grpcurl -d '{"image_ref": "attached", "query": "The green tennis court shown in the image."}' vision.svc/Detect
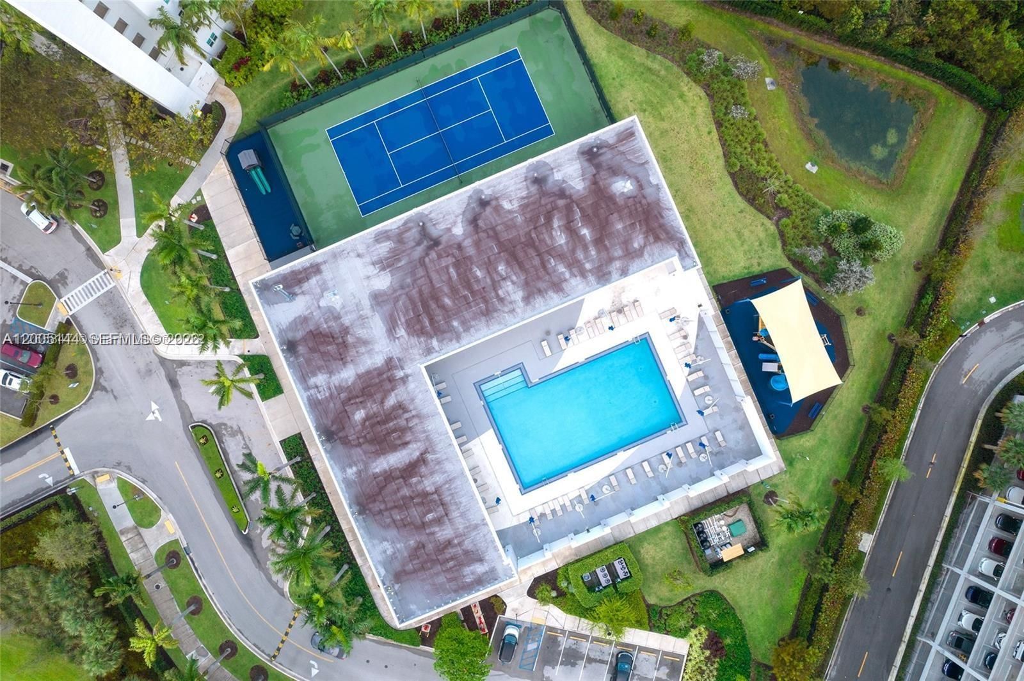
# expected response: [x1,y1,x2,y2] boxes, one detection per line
[267,8,640,254]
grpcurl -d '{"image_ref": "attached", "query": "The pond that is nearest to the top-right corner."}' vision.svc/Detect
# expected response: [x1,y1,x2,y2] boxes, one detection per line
[766,38,916,182]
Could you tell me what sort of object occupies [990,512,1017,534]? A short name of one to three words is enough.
car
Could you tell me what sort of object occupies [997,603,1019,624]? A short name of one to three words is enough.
car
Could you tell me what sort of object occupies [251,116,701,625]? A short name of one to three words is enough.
building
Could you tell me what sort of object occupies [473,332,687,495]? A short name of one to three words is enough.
swimming pool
